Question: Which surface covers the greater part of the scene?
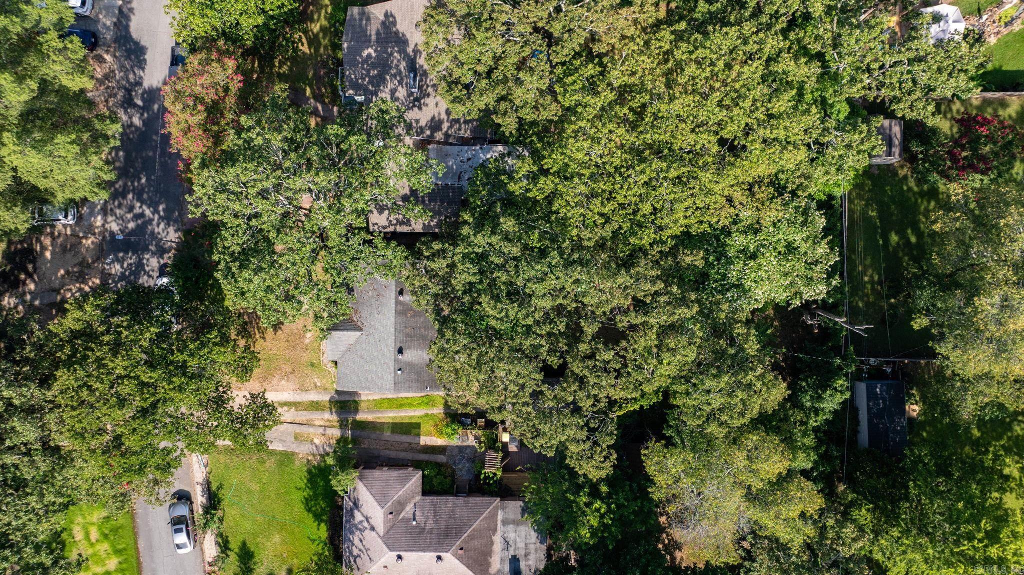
trees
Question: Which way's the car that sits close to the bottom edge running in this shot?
from top to bottom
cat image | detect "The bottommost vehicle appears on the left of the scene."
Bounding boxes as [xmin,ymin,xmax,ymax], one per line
[162,497,193,554]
